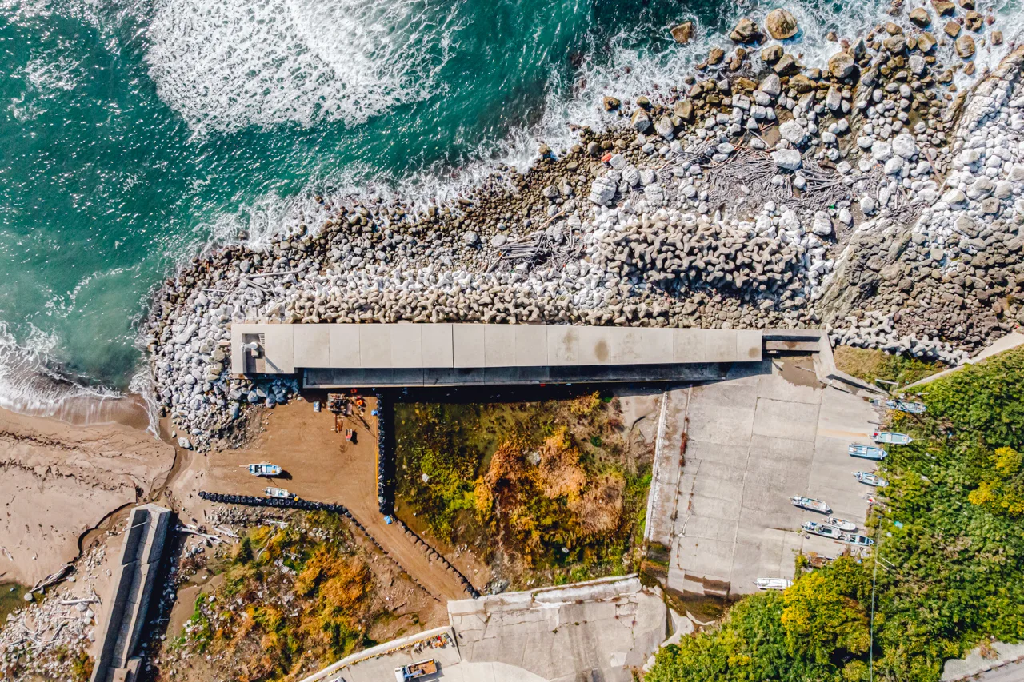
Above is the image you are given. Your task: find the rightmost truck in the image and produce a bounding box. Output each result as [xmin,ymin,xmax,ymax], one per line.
[393,657,438,682]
